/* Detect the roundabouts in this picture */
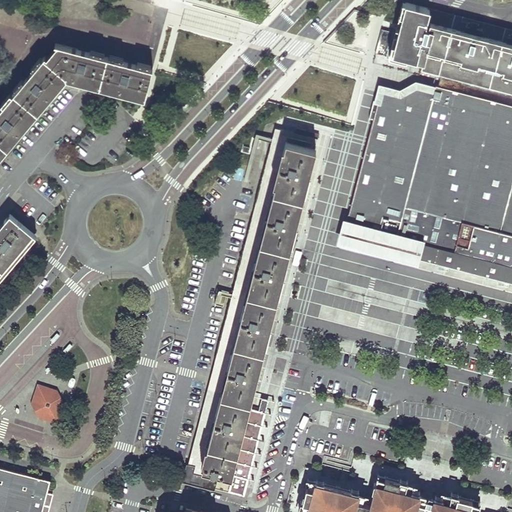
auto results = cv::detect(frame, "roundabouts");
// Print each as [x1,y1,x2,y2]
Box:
[64,170,168,275]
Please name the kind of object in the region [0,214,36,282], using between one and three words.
building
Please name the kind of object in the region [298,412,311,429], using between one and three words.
vehicle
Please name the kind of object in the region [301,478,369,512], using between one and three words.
house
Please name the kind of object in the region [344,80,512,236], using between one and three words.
building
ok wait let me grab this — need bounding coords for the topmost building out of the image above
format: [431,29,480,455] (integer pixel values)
[390,6,512,96]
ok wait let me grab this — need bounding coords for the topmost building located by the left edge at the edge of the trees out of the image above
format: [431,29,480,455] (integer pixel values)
[0,44,152,163]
